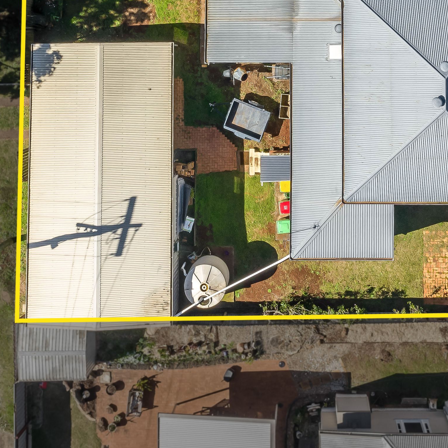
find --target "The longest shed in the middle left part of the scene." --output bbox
[23,42,179,329]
